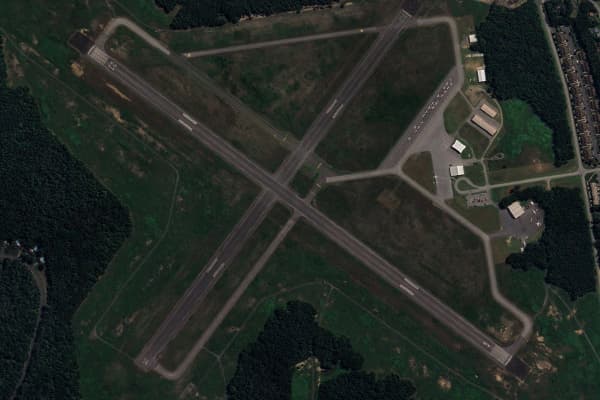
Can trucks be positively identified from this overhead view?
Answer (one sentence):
No, I can see no truck in this picture.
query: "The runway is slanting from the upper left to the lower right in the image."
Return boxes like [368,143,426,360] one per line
[87,43,513,367]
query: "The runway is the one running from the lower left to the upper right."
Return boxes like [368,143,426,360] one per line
[138,8,414,368]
